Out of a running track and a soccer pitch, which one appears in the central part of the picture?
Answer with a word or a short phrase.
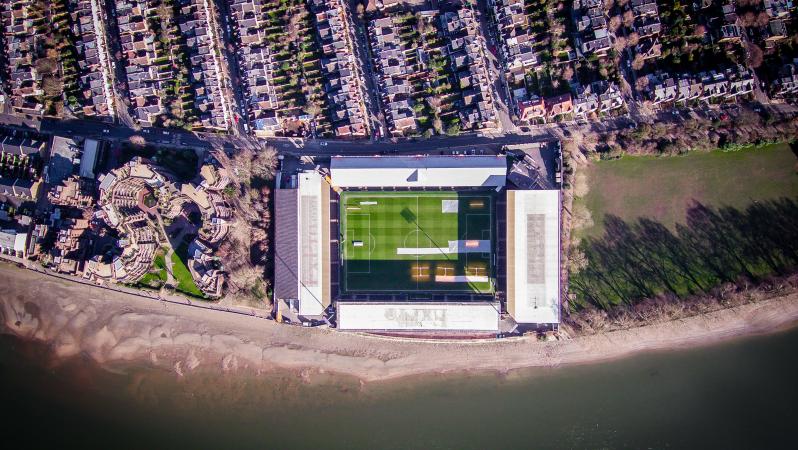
soccer pitch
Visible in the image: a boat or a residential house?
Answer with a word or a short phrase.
residential house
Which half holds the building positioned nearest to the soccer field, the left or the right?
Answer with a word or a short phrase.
right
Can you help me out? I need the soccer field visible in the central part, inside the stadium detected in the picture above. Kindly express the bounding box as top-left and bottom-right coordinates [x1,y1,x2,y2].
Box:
[341,190,500,296]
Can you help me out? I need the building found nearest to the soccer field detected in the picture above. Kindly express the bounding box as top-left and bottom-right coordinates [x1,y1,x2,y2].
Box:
[507,161,541,190]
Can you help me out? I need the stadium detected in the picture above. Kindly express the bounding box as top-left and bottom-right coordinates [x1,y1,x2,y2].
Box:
[275,155,561,330]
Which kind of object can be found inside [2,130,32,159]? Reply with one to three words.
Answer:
house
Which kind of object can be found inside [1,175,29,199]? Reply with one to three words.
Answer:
house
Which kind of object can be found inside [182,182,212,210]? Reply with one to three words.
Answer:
building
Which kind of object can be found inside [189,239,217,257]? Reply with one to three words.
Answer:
building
